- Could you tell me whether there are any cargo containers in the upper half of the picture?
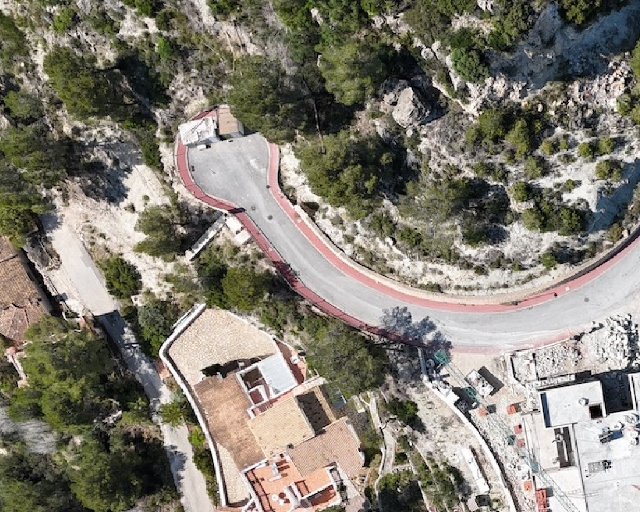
No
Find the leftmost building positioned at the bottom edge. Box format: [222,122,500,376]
[194,339,367,512]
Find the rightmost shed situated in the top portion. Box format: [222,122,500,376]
[218,106,250,140]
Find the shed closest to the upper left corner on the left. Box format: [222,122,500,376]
[179,116,226,149]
